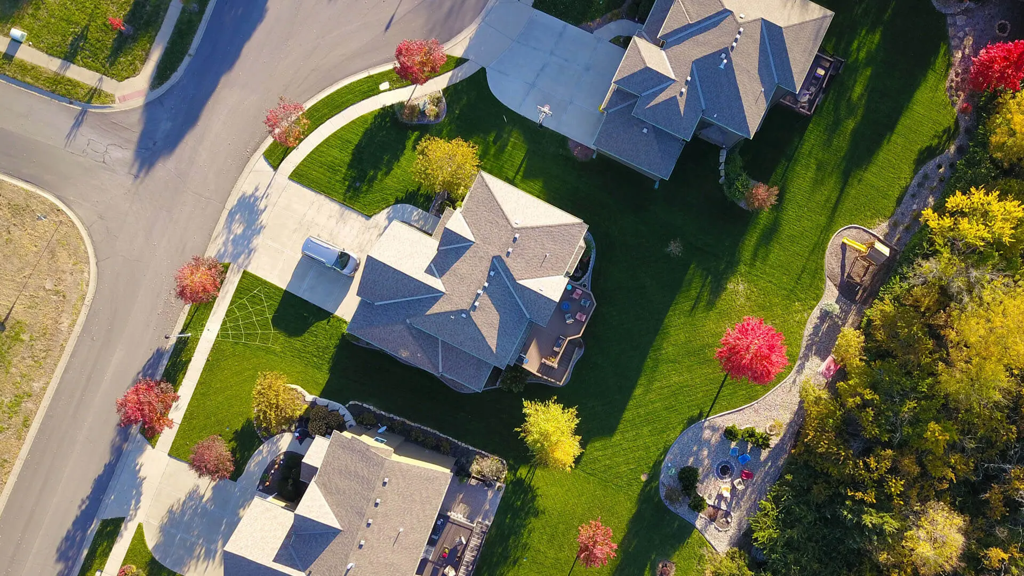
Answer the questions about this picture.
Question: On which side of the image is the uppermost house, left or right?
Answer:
right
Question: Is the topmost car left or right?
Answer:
left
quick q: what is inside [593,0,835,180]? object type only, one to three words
house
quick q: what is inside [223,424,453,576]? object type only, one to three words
house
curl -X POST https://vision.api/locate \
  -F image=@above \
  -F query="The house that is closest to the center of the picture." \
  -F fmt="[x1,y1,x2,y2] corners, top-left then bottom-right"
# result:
[346,171,588,393]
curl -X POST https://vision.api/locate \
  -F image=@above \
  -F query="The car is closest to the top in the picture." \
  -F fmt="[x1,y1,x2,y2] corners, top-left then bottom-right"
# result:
[298,236,359,275]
